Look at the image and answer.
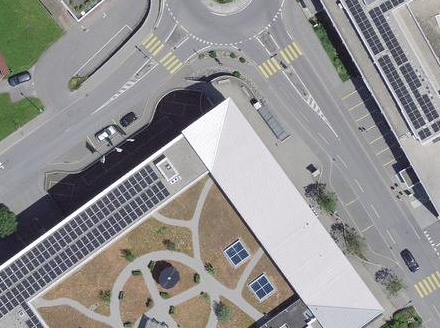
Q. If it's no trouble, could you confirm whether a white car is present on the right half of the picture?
No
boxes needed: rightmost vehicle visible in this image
[402,248,418,272]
